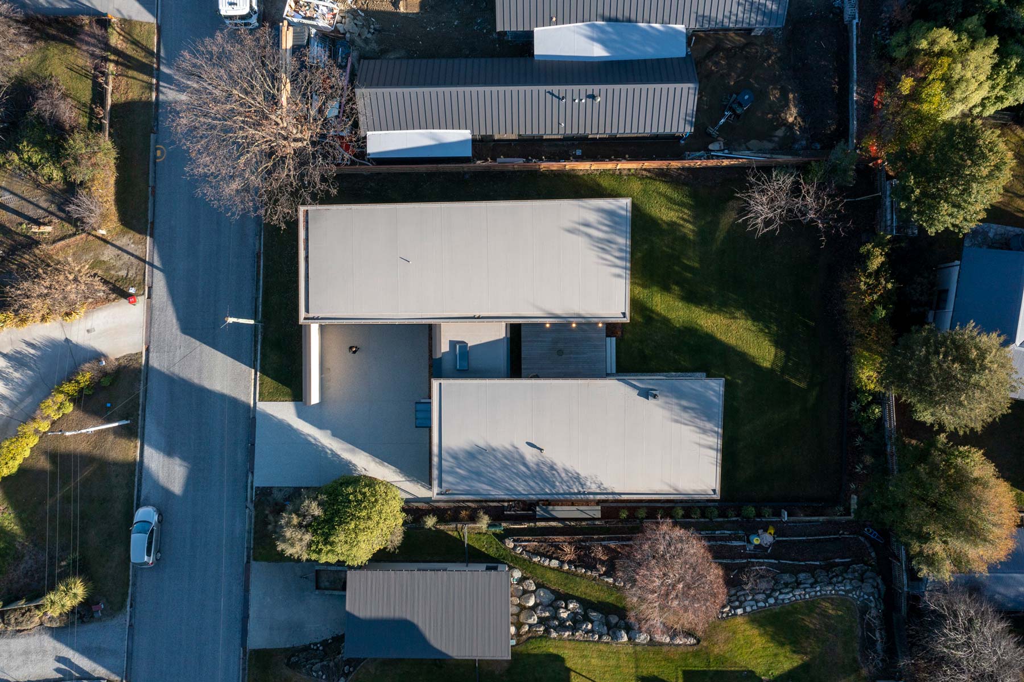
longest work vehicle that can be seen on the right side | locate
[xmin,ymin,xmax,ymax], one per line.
[700,84,759,139]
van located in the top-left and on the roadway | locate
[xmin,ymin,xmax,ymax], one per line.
[219,0,256,30]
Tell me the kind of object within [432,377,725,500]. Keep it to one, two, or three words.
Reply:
house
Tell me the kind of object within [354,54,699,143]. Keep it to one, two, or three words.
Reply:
house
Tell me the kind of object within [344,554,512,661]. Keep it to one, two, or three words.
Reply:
building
